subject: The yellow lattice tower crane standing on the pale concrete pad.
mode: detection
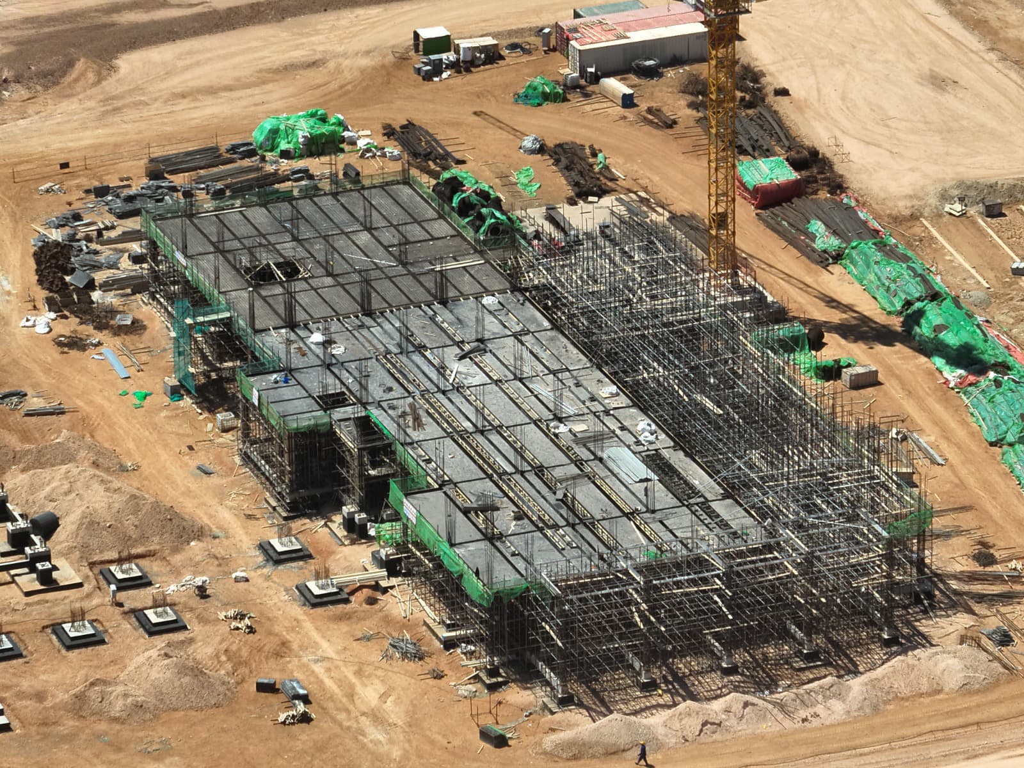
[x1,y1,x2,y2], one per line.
[686,0,765,296]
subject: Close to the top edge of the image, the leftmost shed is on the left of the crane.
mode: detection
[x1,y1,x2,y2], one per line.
[412,26,452,56]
